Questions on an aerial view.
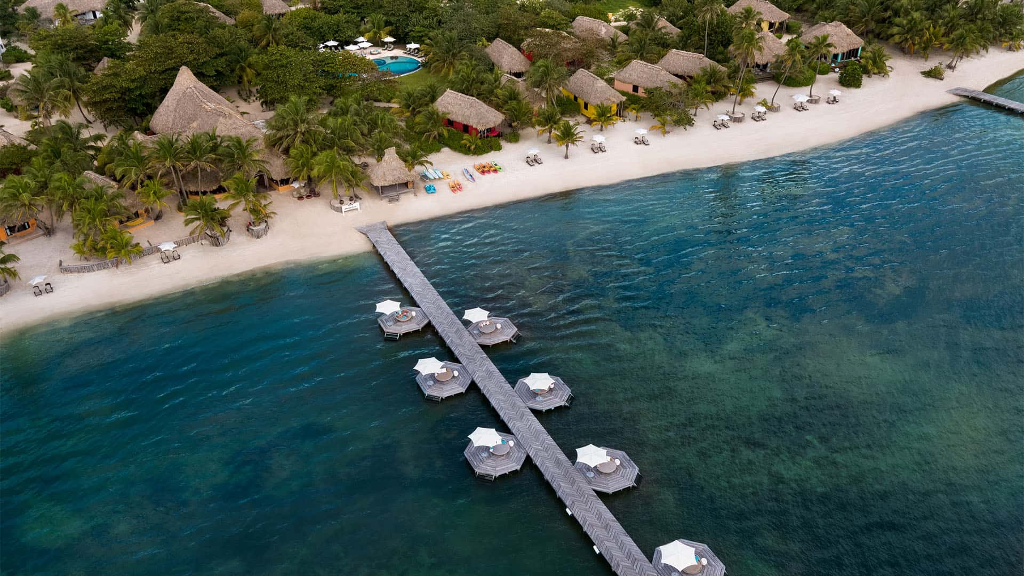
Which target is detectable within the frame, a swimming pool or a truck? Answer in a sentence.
Of the two, only a swimming pool appears.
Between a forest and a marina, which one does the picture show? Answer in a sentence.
This looks like a marina.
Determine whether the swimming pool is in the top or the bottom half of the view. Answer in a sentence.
You can find the swimming pool in the top half.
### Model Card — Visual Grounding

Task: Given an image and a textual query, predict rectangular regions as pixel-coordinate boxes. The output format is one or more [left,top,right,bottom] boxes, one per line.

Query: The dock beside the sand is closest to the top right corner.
[943,88,1024,117]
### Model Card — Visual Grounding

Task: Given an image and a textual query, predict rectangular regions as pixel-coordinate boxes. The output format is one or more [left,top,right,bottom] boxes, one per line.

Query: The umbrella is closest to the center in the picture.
[461,308,489,325]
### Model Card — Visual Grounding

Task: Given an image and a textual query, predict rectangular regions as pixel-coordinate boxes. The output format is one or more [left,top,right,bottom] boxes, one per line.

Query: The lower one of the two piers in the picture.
[354,222,661,576]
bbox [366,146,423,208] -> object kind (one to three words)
shed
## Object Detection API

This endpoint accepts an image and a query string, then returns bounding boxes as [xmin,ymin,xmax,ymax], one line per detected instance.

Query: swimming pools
[334,56,423,80]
